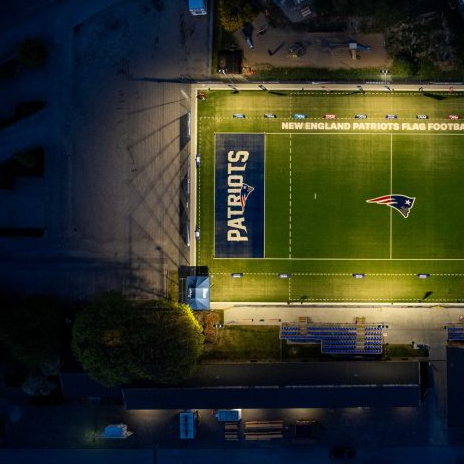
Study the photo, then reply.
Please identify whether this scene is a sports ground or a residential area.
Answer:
sports ground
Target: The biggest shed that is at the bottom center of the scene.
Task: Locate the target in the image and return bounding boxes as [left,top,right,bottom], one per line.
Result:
[119,361,427,408]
